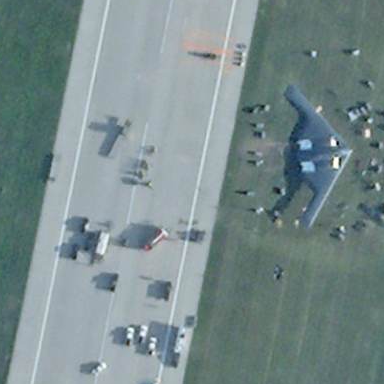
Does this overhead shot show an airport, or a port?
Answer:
airport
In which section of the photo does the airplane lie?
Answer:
right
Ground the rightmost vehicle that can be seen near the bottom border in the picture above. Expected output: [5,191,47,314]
[173,323,189,365]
